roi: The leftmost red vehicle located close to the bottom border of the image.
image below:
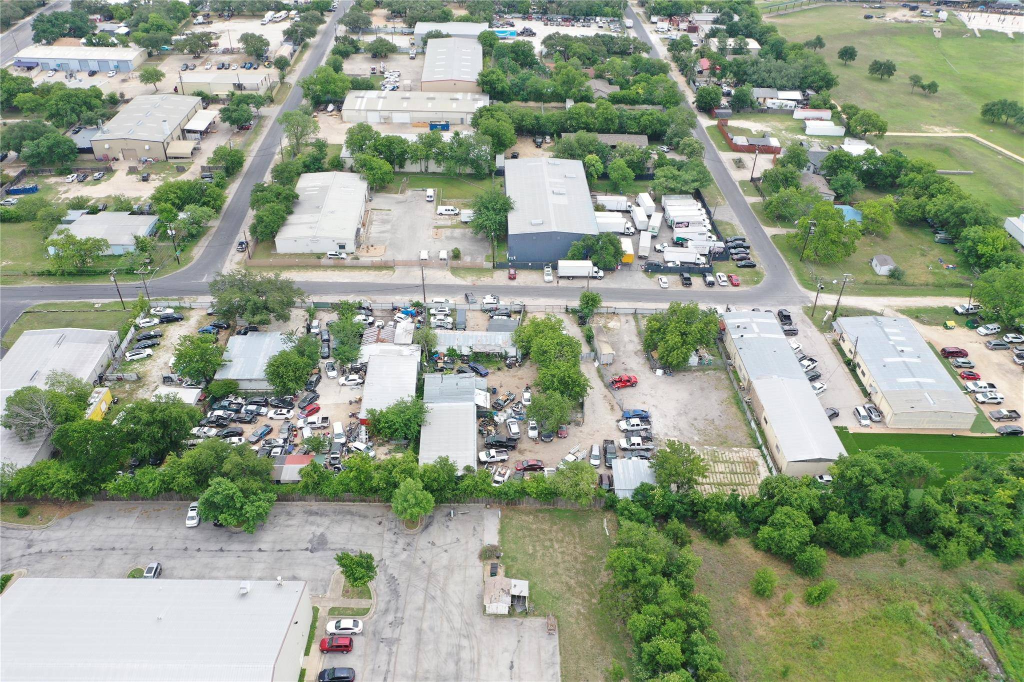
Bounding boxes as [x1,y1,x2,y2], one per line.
[316,635,356,655]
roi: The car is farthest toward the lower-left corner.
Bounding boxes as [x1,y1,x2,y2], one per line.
[140,555,169,579]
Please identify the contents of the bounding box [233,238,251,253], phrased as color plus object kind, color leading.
gray vehicle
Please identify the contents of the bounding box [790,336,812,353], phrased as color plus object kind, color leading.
white vehicle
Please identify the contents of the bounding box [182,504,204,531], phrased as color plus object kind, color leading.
white car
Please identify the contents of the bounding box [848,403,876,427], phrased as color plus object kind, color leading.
white car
